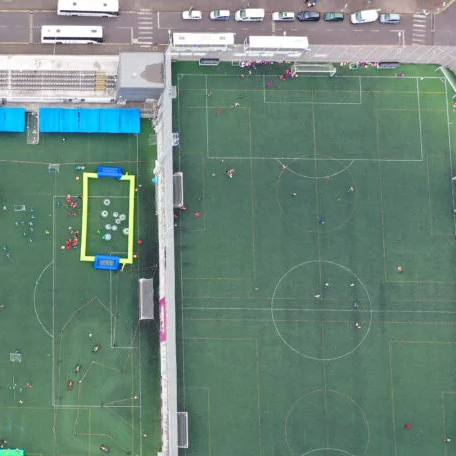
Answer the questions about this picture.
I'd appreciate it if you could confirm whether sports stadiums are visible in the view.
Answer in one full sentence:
Yes, a sports stadium appears in the view.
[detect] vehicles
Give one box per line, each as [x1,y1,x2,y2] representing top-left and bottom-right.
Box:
[381,12,403,24]
[236,8,264,22]
[272,10,294,22]
[296,9,321,22]
[40,26,105,45]
[182,10,202,21]
[208,9,230,21]
[170,33,236,52]
[56,0,121,18]
[348,9,378,24]
[242,36,310,55]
